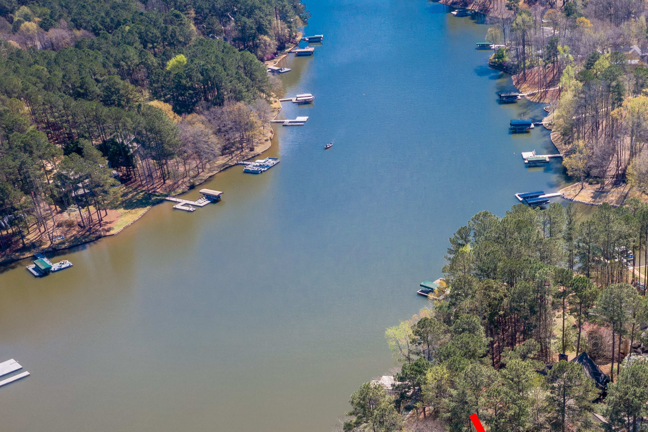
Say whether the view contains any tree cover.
Yes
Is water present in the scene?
Yes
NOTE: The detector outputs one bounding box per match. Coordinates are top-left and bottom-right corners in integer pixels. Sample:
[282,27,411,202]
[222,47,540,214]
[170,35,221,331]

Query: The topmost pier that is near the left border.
[25,253,73,278]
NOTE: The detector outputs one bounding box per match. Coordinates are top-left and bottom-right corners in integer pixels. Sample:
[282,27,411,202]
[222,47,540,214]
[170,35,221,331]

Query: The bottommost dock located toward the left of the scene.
[0,360,30,386]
